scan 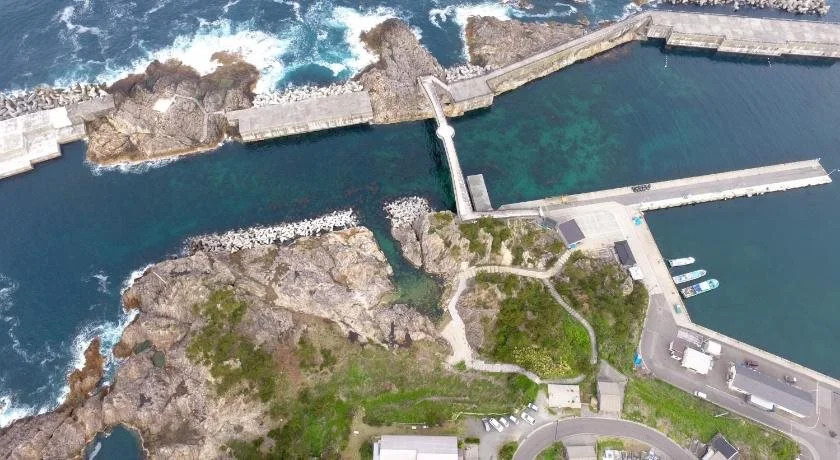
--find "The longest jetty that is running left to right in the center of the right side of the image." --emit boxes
[501,159,831,215]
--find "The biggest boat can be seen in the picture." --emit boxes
[680,280,720,298]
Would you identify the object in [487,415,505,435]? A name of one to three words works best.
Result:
vehicle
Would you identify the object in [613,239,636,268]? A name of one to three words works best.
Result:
shed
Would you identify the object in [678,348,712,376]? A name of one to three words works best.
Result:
building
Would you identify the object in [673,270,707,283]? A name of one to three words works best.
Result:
boat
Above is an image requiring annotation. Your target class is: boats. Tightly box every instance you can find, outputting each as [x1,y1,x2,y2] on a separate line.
[668,257,696,266]
[680,280,720,298]
[673,270,707,283]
